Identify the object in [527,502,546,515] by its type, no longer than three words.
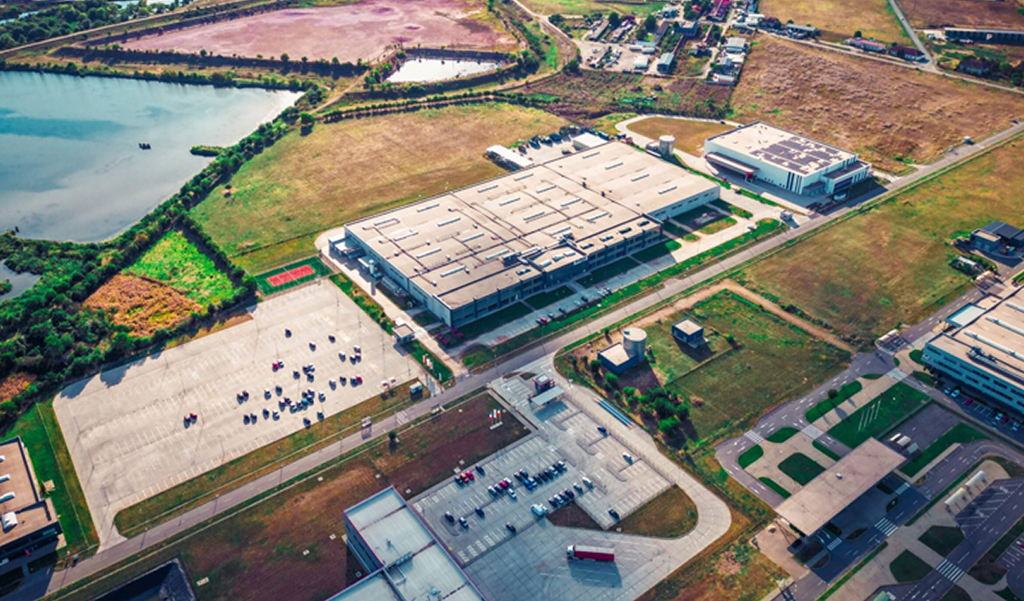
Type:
vehicle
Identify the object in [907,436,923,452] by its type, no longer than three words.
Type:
vehicle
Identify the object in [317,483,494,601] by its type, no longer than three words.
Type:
building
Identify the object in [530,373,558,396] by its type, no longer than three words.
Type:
building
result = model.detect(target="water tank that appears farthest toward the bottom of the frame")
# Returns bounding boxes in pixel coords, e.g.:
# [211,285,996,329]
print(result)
[622,329,647,363]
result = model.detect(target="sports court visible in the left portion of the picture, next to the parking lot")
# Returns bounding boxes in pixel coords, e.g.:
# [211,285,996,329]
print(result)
[253,253,331,295]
